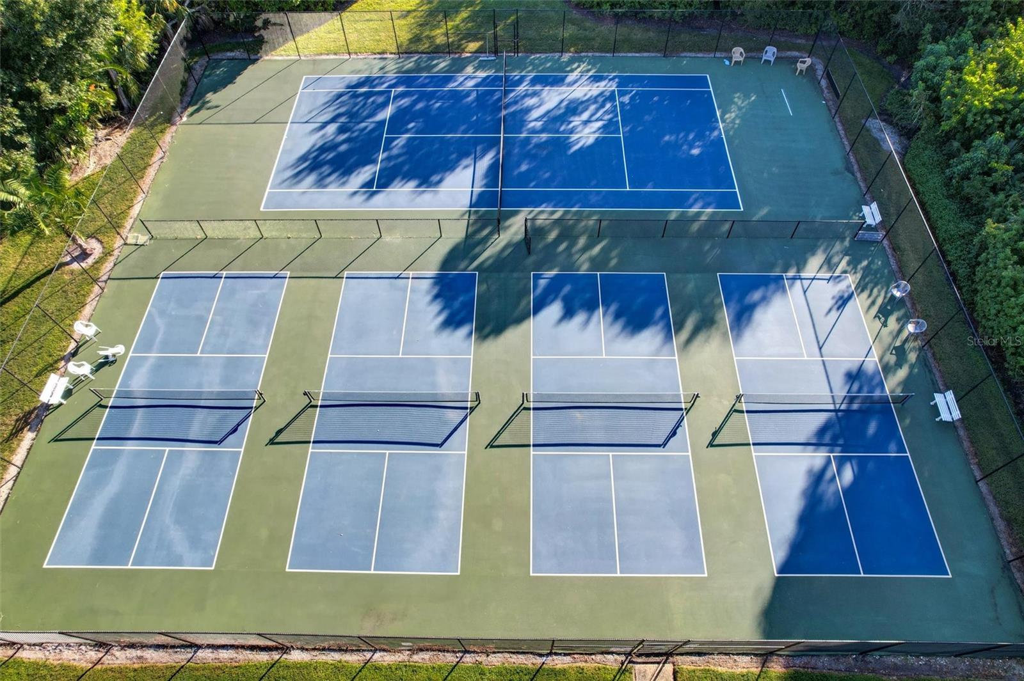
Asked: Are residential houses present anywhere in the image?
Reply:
No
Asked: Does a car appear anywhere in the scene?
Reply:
No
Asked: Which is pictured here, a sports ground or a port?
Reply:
sports ground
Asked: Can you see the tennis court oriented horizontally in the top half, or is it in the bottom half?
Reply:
top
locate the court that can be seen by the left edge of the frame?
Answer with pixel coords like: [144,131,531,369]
[44,271,290,570]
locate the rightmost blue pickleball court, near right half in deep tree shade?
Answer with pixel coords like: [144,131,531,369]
[716,273,952,578]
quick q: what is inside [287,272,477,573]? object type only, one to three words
sports court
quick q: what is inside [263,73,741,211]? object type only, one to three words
tennis court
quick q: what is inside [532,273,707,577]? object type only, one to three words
sports court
